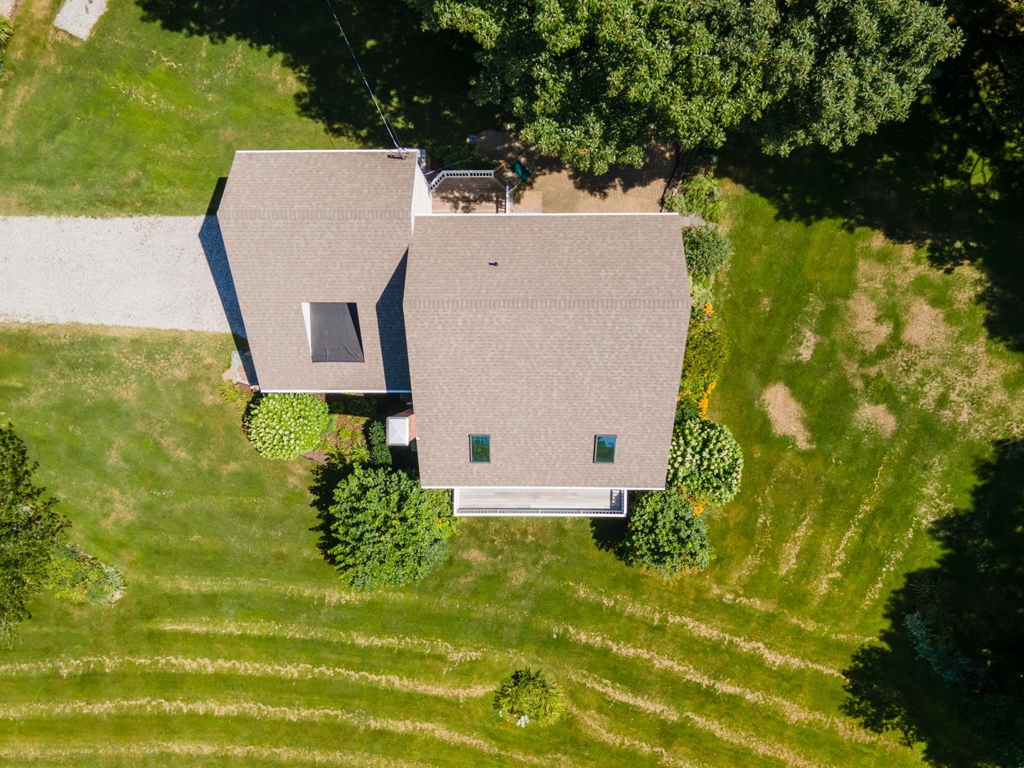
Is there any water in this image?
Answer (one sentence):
No, there is no water in the image.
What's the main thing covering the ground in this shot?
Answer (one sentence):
The bulk of the photo consists of grass.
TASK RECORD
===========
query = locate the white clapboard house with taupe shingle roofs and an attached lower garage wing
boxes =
[217,148,691,492]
